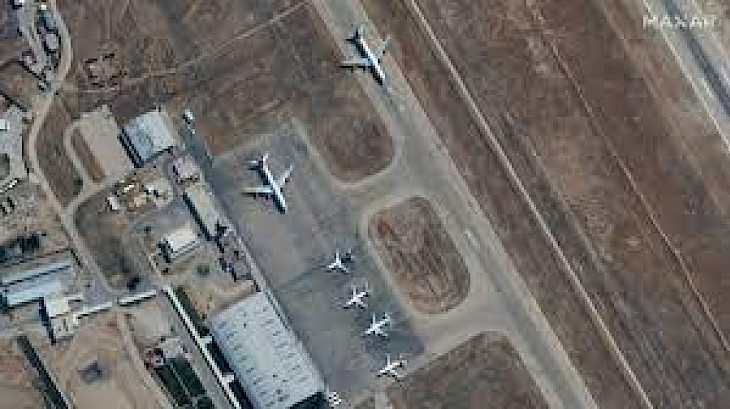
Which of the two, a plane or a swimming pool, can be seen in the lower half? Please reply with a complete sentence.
You can see a plane in the lower half.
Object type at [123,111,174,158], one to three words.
hangar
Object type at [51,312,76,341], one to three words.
building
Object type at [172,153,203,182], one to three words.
building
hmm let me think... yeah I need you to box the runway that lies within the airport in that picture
[644,0,730,147]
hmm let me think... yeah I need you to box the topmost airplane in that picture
[341,27,392,83]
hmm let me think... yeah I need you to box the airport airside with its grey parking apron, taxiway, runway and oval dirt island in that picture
[204,0,730,409]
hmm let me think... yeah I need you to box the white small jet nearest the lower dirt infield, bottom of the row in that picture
[379,355,406,378]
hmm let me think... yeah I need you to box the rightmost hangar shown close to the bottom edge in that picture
[207,291,324,409]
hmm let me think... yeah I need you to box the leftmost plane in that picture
[242,155,296,213]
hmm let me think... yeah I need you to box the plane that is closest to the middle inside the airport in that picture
[329,248,355,269]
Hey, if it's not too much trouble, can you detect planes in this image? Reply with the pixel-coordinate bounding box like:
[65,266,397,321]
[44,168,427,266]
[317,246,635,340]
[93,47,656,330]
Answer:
[329,248,355,269]
[366,314,392,336]
[341,27,392,83]
[346,287,371,309]
[379,355,406,378]
[242,155,296,213]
